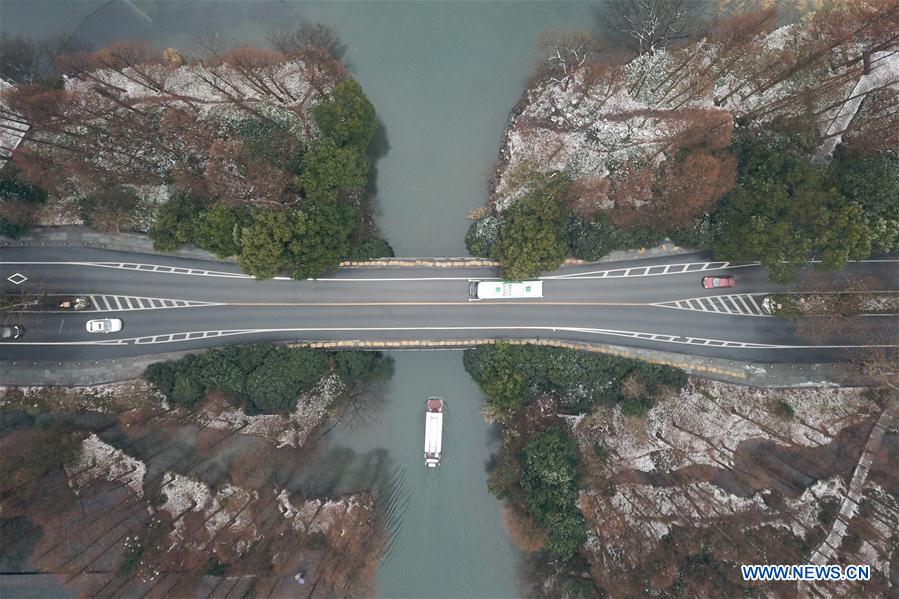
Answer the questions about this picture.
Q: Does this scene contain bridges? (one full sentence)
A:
Yes, there is a bridge in the image.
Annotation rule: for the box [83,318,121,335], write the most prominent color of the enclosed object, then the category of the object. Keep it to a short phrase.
white car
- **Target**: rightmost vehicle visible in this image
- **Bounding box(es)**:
[703,275,738,290]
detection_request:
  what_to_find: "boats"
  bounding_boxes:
[424,400,442,468]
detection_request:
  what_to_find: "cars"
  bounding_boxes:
[0,324,20,341]
[703,275,738,290]
[83,318,121,335]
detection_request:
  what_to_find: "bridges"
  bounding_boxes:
[287,255,746,379]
